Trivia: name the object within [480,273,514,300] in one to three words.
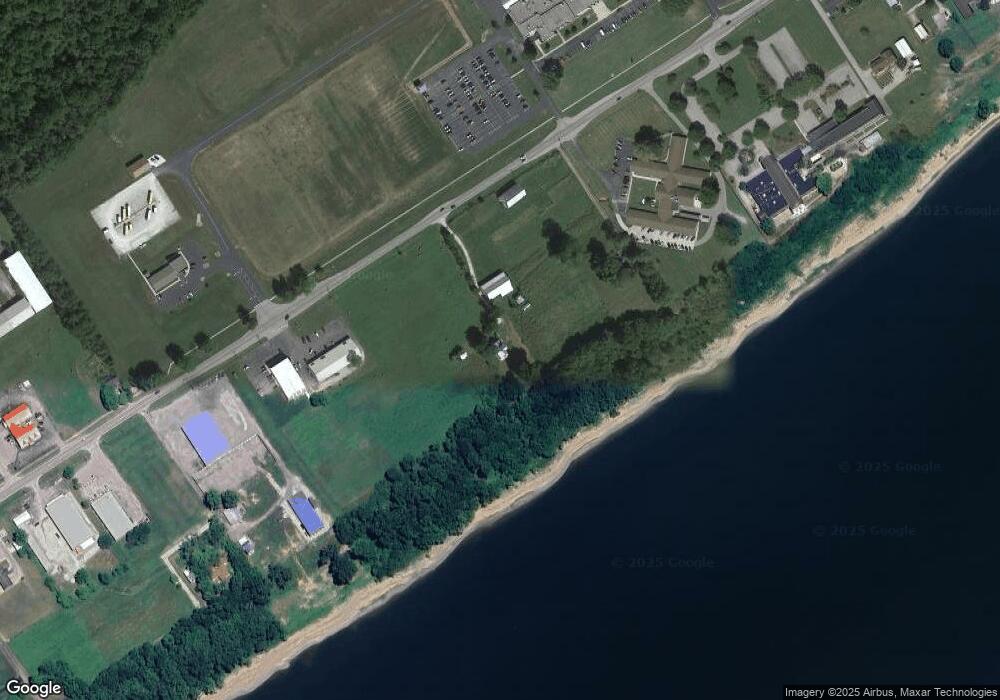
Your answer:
barn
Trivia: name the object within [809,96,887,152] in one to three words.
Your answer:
building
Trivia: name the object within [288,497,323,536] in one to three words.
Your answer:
house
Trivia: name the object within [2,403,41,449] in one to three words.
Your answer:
house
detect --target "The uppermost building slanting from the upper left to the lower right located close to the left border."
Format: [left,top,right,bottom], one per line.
[3,251,52,312]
